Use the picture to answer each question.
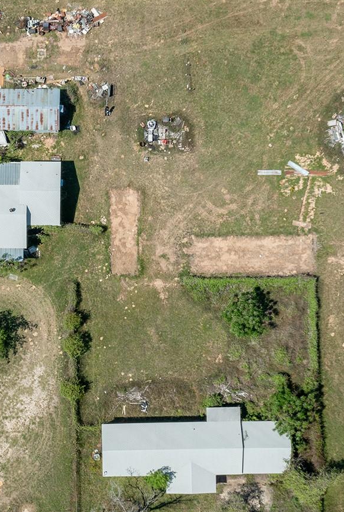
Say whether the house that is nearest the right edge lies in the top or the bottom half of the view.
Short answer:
bottom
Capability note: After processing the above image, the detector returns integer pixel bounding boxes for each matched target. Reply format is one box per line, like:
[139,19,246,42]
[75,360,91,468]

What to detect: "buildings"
[0,160,65,267]
[0,88,65,134]
[101,406,292,494]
